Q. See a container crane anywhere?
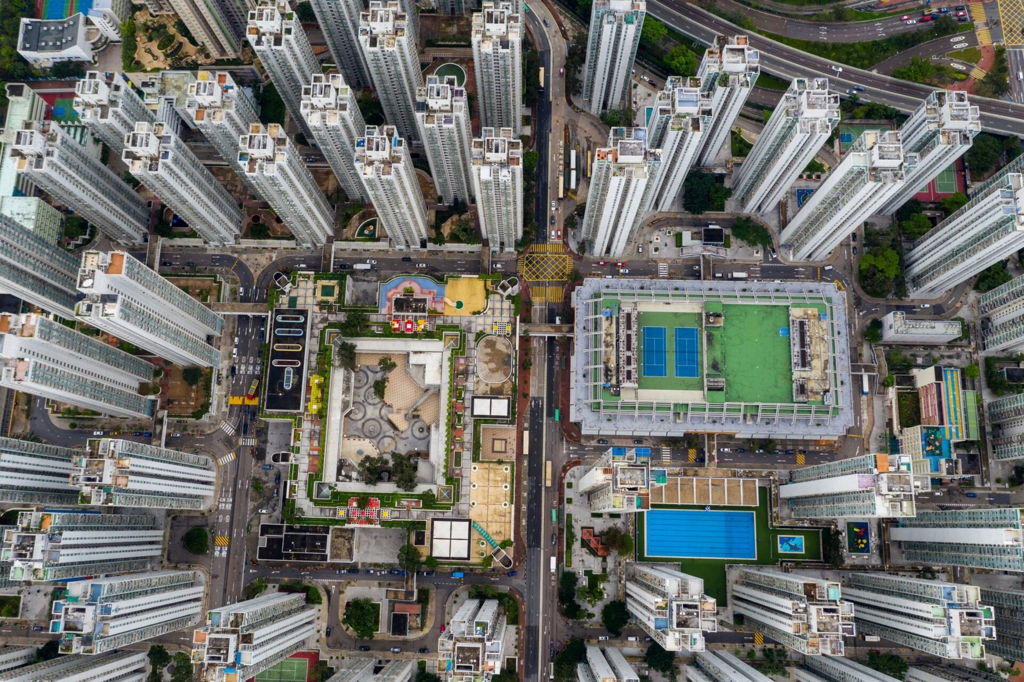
No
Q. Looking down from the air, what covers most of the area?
buildings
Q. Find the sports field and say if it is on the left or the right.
right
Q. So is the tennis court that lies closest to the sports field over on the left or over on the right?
right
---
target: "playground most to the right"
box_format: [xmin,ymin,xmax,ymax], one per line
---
[847,522,870,553]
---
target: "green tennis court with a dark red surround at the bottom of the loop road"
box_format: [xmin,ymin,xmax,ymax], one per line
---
[254,650,320,682]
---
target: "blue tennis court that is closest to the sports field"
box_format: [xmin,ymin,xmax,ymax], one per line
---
[673,328,700,377]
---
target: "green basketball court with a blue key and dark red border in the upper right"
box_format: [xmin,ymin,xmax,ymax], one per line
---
[835,122,895,159]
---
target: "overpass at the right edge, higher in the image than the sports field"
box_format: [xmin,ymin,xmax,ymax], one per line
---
[645,0,1024,137]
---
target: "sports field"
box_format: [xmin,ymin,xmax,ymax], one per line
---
[723,304,792,402]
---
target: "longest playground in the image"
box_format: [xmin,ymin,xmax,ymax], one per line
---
[380,276,490,315]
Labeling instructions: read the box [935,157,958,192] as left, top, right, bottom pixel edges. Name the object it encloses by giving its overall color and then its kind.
green tennis court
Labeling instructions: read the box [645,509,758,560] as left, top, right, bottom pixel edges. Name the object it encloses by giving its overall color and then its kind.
blue swimming pool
